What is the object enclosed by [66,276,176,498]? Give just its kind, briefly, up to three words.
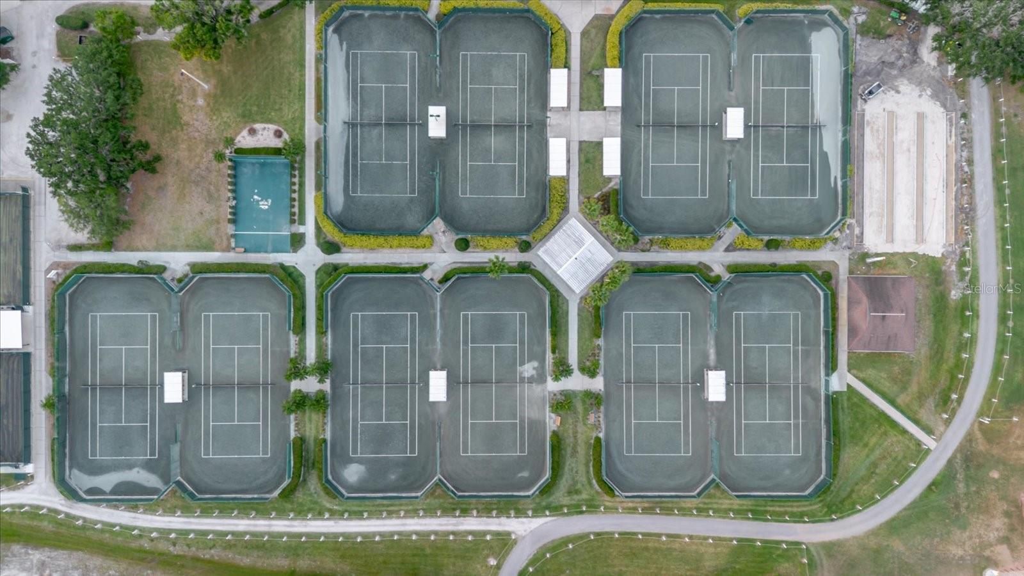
tennis court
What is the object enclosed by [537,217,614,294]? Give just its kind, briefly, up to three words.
building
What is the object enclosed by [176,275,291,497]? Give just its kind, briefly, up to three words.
tennis court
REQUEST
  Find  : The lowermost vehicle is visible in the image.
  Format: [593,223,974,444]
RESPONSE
[858,80,886,102]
